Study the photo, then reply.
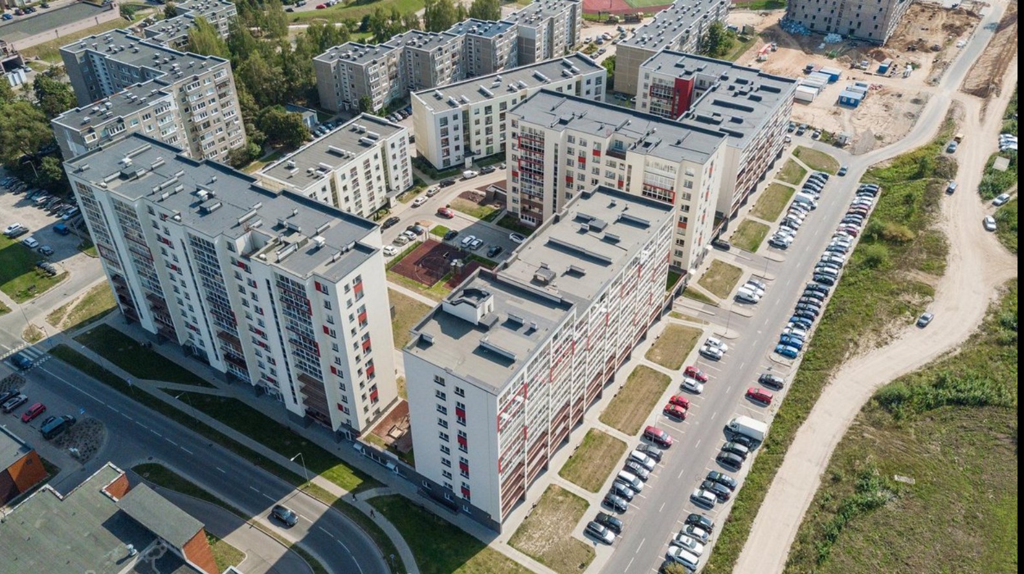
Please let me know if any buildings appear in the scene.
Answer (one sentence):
Yes, this view includes a building.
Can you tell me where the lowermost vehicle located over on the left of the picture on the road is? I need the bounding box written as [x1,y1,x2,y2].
[271,504,299,528]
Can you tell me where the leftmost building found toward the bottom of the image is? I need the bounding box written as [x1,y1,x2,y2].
[0,425,46,501]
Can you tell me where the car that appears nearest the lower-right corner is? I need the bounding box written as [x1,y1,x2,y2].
[914,314,936,327]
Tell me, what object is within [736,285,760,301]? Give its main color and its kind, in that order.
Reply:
white vehicle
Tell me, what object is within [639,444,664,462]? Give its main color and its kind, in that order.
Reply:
gray car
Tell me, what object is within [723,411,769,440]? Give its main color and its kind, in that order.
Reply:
white truck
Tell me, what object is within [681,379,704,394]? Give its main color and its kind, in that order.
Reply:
white car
